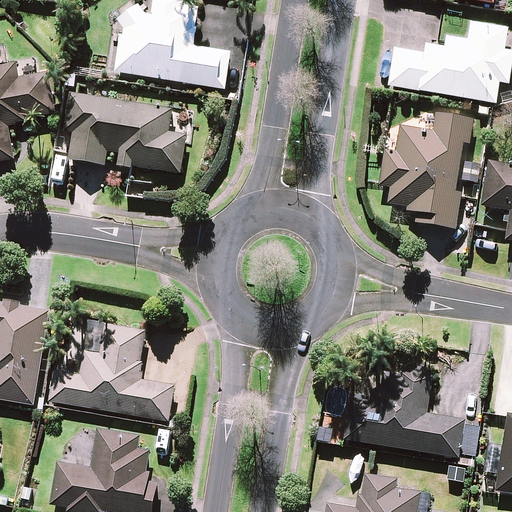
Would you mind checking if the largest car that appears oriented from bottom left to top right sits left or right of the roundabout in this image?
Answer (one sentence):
The largest car that appears oriented from bottom left to top right can be seen on the right of the roundabout.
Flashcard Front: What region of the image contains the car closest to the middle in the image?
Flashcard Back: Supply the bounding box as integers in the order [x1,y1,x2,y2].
[297,330,311,356]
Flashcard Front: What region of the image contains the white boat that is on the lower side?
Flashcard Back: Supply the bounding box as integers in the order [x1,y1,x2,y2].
[351,449,366,484]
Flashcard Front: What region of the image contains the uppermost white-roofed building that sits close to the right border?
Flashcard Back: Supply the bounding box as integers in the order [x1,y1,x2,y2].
[386,20,512,102]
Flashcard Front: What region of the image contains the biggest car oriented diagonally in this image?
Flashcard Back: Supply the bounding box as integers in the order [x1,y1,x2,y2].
[448,220,472,246]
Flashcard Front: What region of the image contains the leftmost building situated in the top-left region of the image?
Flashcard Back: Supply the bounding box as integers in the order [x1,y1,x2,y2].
[0,60,54,162]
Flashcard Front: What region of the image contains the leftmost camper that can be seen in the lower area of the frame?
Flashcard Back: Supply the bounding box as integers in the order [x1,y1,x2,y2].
[156,430,171,462]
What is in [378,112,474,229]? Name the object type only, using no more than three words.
house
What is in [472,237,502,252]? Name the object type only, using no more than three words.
vehicle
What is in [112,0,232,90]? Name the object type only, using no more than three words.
house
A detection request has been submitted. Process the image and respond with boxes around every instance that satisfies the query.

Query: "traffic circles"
[198,189,354,346]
